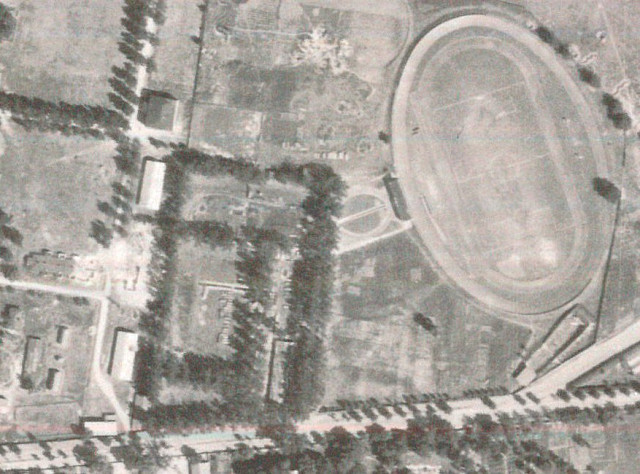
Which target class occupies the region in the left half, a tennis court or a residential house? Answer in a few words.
residential house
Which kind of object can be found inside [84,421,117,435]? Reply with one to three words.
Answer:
shed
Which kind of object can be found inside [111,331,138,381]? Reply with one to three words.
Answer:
building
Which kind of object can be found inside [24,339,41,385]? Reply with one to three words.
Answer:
barn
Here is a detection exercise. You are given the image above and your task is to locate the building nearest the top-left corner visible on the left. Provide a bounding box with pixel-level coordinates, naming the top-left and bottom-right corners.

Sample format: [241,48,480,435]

[139,95,176,130]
